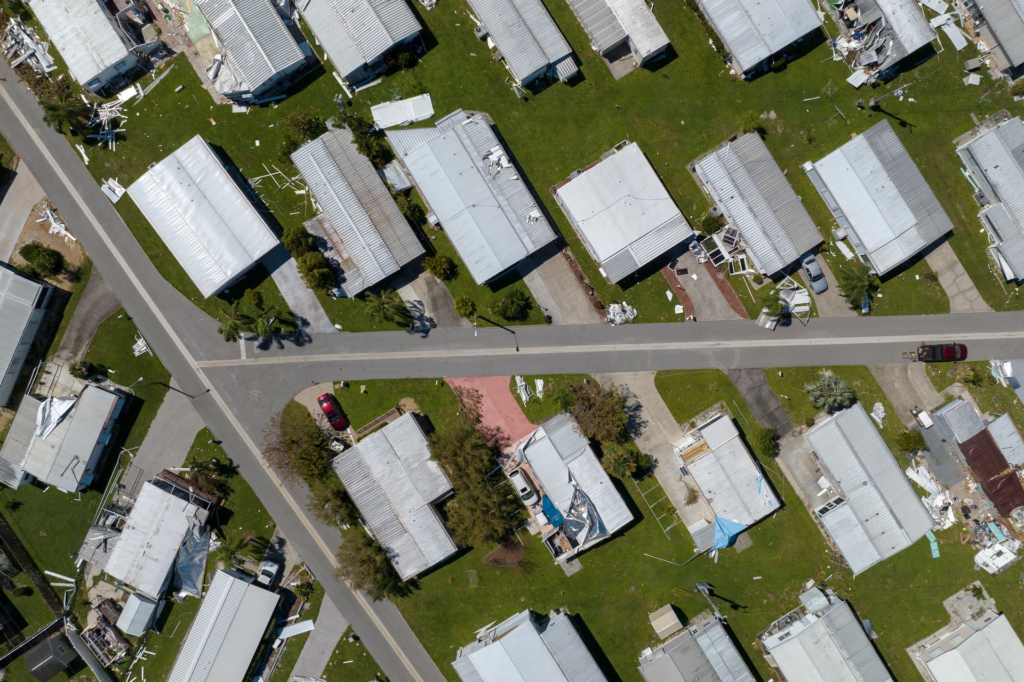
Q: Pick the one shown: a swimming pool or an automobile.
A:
automobile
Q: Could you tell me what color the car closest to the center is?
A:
white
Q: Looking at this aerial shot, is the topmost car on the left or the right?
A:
right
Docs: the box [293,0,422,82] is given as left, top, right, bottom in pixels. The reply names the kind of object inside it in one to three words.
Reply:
house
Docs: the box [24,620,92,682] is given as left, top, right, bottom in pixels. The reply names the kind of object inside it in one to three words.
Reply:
shed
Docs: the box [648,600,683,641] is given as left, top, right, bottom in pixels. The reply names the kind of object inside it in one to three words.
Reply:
shed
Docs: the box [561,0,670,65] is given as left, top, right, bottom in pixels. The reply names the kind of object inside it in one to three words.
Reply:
house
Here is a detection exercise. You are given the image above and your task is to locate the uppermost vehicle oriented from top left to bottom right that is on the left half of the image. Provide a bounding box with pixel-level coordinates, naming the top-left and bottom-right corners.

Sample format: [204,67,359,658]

[317,391,350,433]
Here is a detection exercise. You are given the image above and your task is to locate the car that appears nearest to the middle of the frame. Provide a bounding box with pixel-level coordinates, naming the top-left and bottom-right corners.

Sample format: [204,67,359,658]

[507,465,539,508]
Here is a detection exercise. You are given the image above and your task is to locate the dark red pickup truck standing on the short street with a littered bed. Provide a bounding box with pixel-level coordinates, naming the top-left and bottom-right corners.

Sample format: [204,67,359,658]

[915,341,968,363]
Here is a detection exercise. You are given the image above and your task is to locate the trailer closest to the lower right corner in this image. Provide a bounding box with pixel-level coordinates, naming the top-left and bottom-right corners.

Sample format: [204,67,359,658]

[969,536,1020,576]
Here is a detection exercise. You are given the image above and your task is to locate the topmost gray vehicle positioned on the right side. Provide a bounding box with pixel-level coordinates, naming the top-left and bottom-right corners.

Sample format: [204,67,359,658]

[799,250,827,296]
